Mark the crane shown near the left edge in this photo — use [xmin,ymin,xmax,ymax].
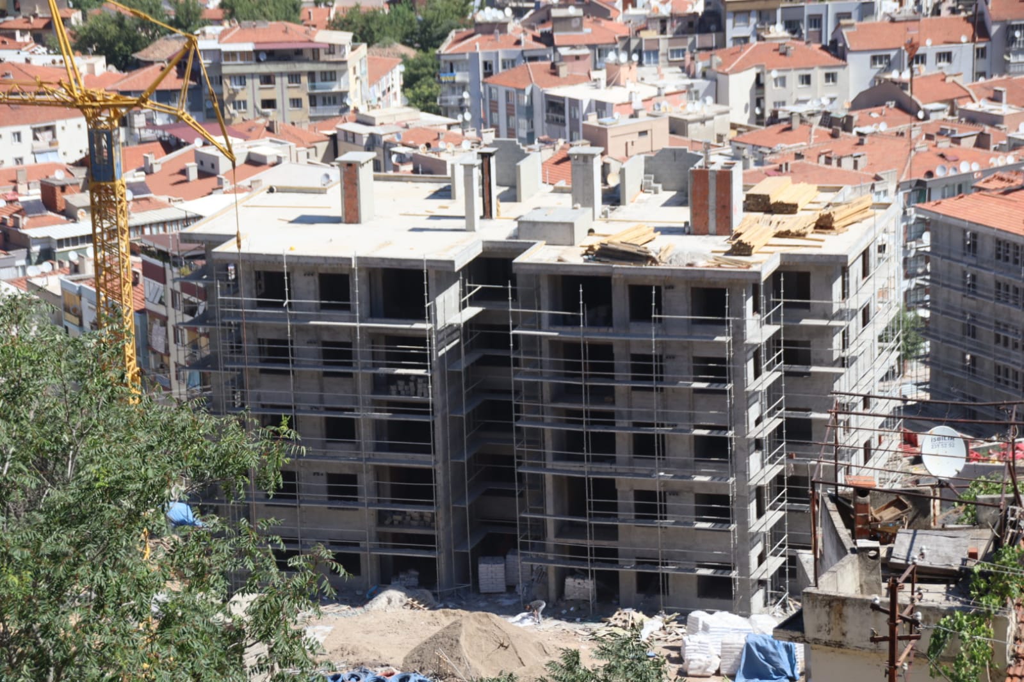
[0,0,255,626]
